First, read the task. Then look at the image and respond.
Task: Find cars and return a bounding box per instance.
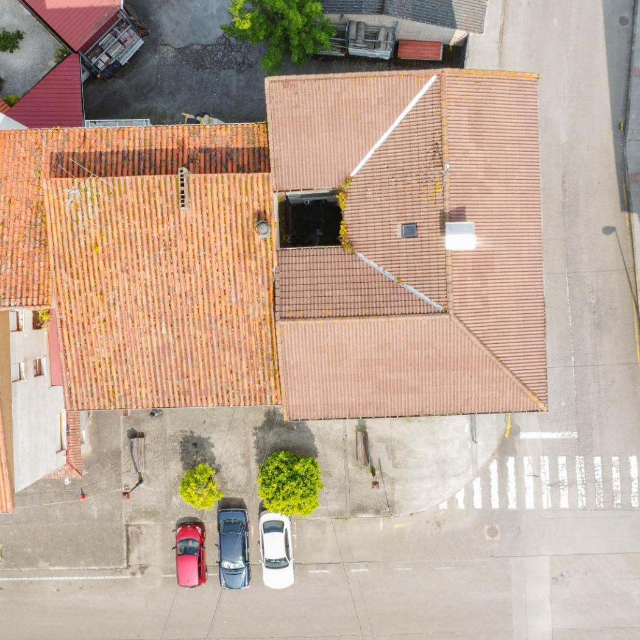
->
[174,521,208,587]
[259,510,296,586]
[216,507,251,587]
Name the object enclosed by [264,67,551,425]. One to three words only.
building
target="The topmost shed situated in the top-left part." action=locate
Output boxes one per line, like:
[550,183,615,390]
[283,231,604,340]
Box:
[26,0,133,67]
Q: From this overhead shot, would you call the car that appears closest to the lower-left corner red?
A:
Yes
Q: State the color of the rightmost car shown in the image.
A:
white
